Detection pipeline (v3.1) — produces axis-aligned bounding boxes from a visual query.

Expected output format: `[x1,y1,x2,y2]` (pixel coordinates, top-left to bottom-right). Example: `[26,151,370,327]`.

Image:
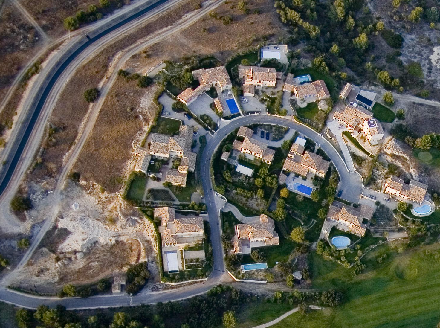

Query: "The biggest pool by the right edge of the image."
[410,202,434,218]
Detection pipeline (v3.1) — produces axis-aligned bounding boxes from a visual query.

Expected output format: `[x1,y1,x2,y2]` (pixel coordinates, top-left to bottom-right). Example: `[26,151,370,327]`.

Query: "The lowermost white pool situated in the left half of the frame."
[163,250,181,274]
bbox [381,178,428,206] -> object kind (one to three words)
house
